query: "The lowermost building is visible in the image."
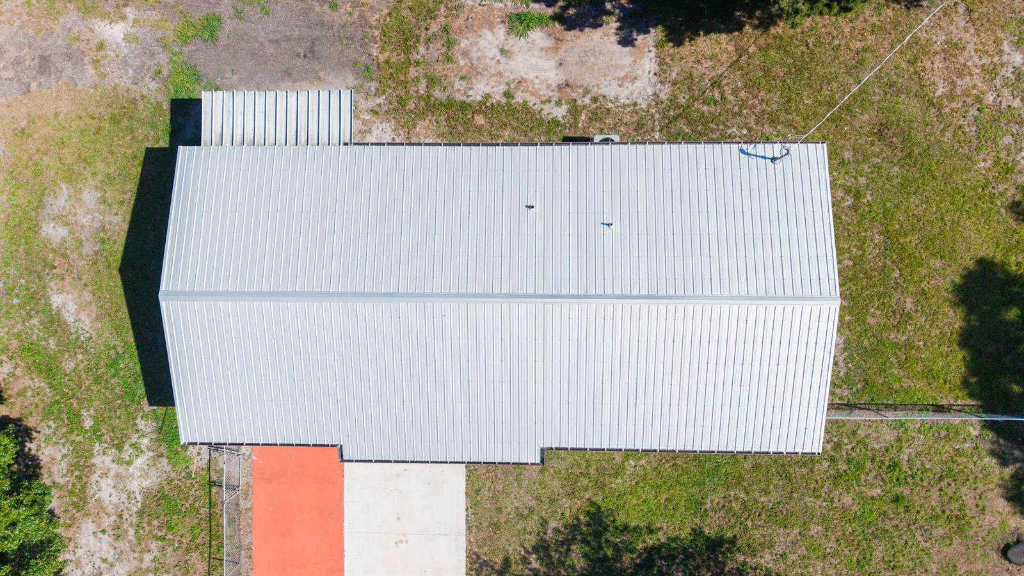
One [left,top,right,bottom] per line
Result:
[158,133,842,466]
